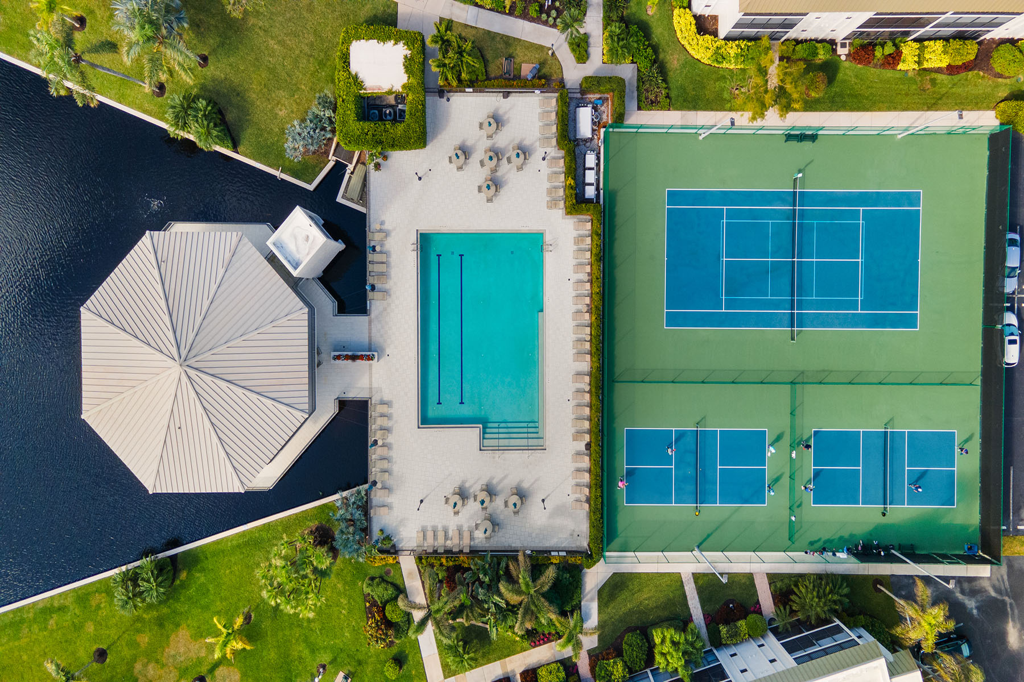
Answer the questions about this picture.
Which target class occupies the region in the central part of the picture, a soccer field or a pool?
pool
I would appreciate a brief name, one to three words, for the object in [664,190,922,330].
tennis court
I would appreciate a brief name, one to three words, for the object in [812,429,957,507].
sports court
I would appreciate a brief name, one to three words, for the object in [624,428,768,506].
sports court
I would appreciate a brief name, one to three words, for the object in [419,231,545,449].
swimming pool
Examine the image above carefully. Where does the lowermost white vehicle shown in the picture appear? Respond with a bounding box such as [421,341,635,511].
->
[1006,311,1022,368]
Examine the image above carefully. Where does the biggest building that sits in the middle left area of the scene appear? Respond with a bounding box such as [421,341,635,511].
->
[80,222,370,495]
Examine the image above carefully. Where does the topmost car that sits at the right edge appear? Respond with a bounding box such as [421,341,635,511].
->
[1007,232,1020,293]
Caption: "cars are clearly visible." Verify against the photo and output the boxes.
[1006,311,1022,368]
[1007,232,1020,293]
[916,633,972,670]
